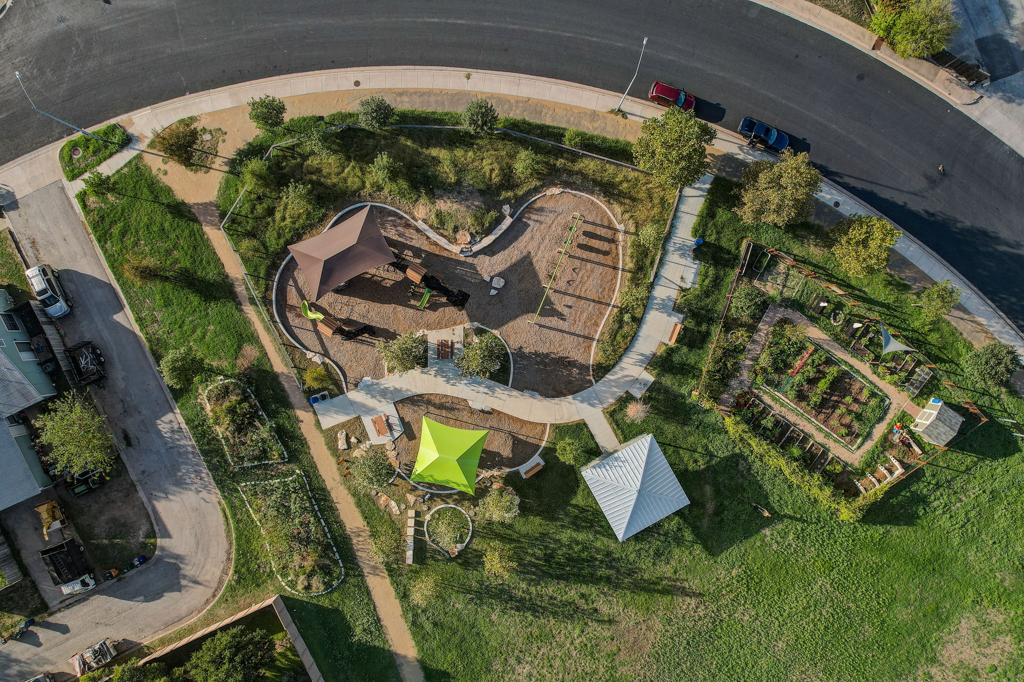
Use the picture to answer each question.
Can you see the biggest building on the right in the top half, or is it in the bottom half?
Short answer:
bottom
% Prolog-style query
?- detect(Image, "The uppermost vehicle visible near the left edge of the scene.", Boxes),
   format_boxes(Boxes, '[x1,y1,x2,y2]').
[26,265,72,319]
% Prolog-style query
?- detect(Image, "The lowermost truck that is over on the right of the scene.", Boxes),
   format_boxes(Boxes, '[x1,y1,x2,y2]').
[732,116,789,153]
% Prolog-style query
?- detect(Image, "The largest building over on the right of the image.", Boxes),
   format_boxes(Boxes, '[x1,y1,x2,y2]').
[581,433,691,542]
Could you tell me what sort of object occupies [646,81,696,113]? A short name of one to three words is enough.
car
